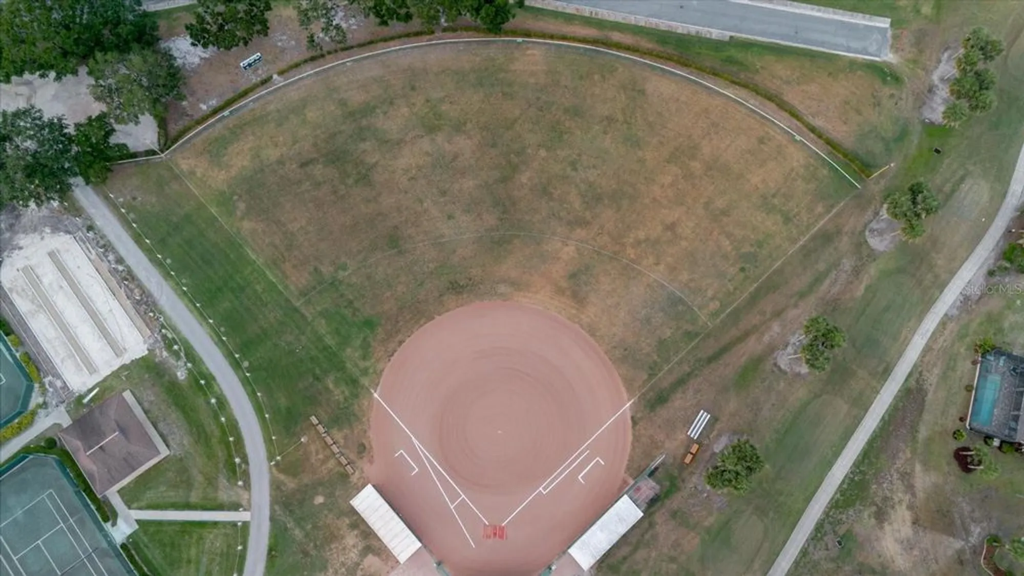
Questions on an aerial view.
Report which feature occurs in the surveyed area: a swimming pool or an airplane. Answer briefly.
swimming pool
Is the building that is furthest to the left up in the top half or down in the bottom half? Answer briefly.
bottom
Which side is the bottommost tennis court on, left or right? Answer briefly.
left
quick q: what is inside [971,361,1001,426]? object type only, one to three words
swimming pool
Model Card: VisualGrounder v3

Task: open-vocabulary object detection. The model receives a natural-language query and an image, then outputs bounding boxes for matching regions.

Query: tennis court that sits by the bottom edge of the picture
[0,458,123,576]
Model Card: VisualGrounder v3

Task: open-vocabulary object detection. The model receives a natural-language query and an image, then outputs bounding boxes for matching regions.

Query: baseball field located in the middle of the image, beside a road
[164,47,862,576]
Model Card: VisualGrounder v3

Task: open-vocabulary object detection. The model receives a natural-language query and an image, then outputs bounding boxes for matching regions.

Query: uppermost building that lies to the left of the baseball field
[58,389,170,497]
